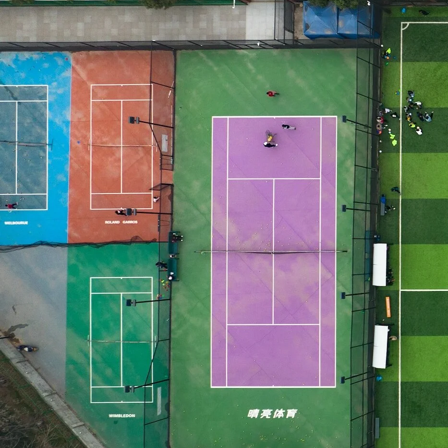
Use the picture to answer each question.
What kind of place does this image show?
sports ground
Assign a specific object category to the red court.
tennis court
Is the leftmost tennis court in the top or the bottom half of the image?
top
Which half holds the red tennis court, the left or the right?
left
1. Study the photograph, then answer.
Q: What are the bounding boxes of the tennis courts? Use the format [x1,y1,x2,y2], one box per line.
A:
[66,244,172,448]
[170,49,371,448]
[68,50,176,243]
[0,52,72,244]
